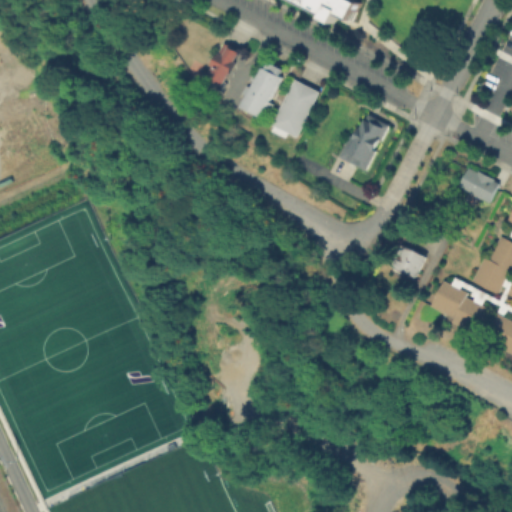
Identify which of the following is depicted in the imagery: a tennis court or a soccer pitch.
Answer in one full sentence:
The image shows a soccer pitch.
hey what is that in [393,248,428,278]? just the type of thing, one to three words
house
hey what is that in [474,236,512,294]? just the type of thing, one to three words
building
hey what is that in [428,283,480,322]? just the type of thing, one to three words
house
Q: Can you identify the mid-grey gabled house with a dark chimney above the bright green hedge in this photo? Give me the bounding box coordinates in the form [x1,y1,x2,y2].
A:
[460,167,502,203]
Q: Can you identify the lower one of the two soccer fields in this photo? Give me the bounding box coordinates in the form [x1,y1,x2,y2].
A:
[50,445,272,512]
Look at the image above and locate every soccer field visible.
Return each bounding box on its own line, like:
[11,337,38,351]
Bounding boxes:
[50,445,272,512]
[0,204,194,497]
